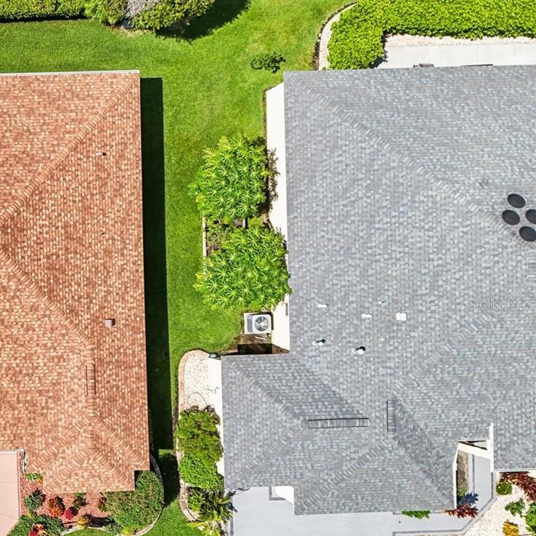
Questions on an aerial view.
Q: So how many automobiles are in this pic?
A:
none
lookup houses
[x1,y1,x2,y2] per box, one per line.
[0,69,151,495]
[209,67,536,517]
